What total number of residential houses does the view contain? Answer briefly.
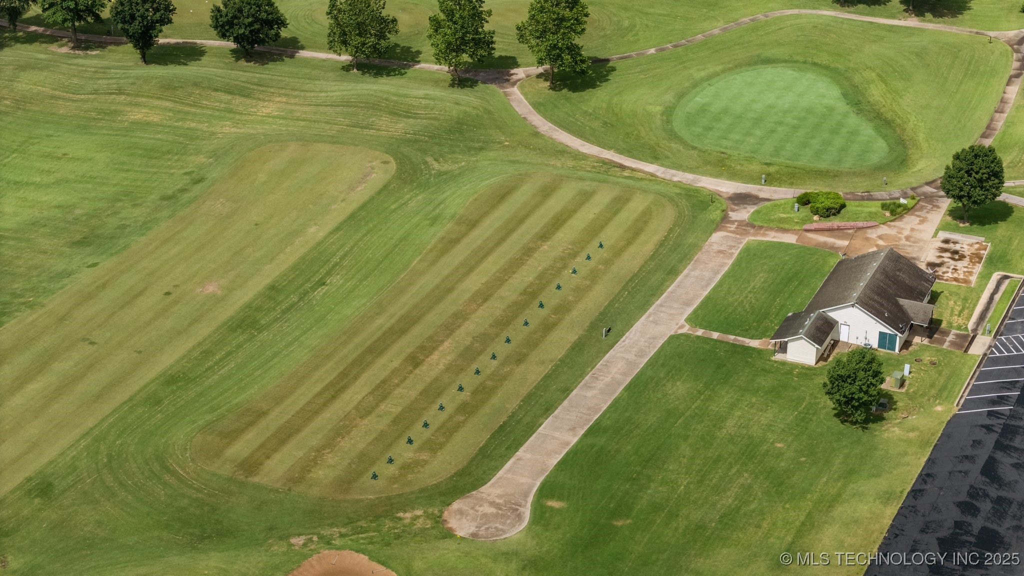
1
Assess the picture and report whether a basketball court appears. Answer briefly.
No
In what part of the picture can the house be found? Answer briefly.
right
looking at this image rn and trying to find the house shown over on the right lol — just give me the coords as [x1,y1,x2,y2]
[770,248,940,366]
